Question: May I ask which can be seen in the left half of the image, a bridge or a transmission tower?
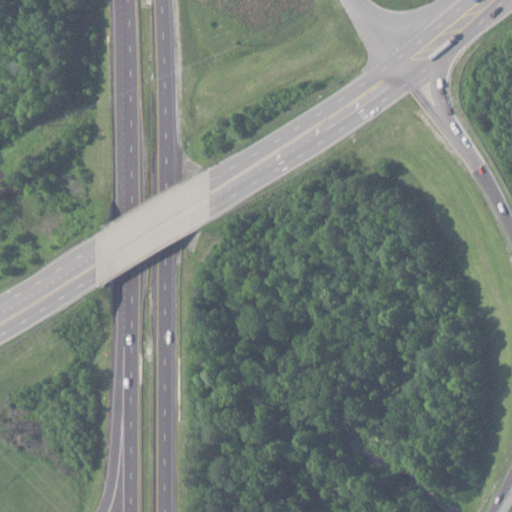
bridge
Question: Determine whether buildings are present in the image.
No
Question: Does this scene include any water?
No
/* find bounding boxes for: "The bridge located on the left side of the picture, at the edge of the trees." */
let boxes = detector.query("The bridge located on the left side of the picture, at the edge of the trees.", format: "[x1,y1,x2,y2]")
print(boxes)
[94,151,209,322]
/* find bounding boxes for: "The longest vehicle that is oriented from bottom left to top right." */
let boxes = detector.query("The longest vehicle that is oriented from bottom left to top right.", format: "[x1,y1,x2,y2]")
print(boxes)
[428,32,465,58]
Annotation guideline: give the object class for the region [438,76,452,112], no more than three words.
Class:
vehicle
